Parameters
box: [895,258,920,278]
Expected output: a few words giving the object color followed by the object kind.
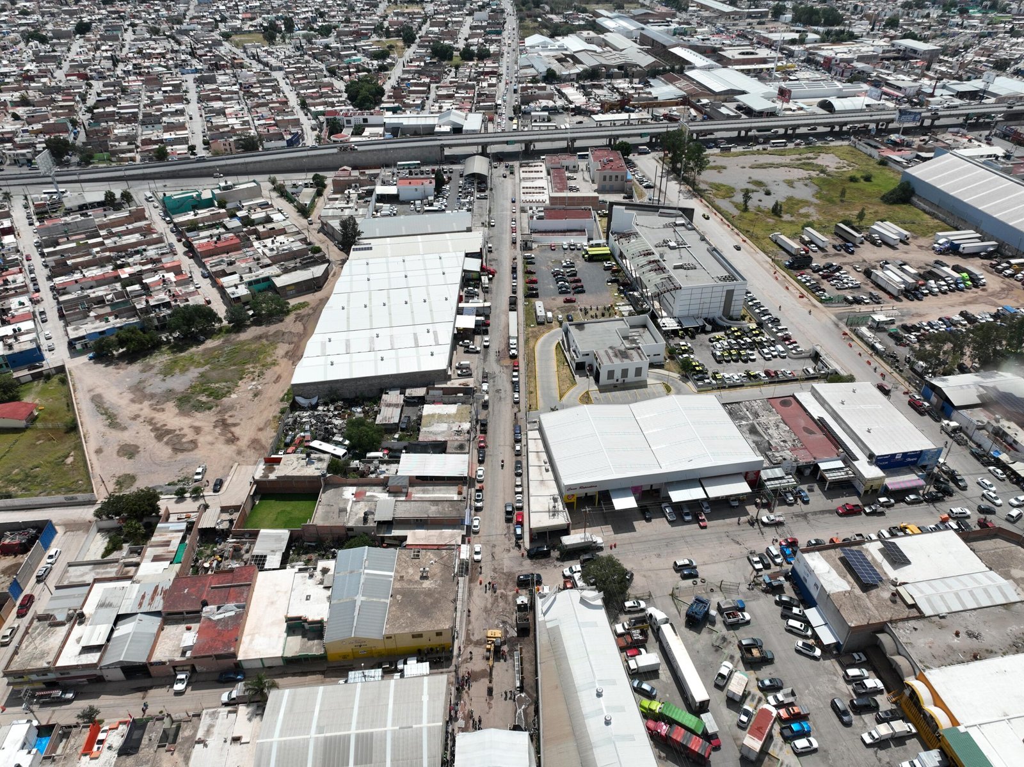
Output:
gray vehicle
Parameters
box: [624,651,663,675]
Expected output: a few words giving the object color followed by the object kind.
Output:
white truck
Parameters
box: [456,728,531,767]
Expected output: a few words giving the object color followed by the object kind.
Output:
white tent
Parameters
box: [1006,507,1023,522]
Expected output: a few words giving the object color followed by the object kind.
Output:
white car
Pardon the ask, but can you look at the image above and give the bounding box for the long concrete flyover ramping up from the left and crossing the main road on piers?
[0,97,1024,187]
